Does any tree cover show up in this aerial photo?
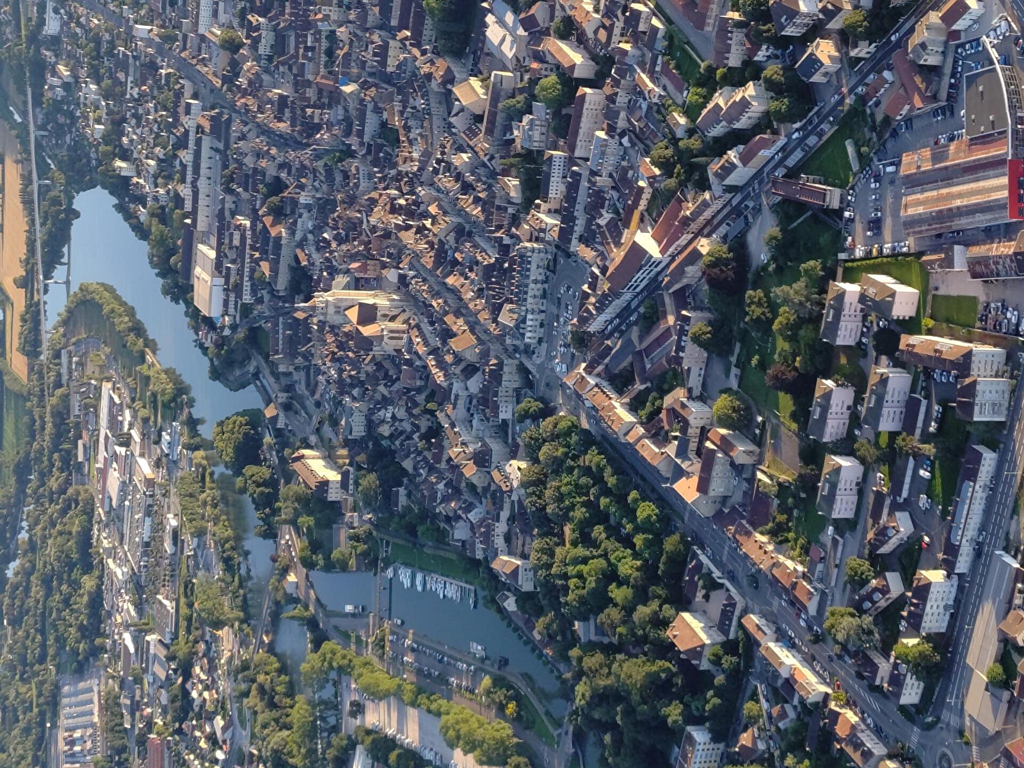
Yes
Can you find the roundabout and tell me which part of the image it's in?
bottom right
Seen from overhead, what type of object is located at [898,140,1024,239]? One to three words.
building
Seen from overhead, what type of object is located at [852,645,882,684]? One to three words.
house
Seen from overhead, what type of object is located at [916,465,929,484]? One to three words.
vehicle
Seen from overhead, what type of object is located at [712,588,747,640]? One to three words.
house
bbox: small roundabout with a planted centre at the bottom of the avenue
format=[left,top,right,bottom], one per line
[907,707,984,768]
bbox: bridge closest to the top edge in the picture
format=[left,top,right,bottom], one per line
[23,0,59,436]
